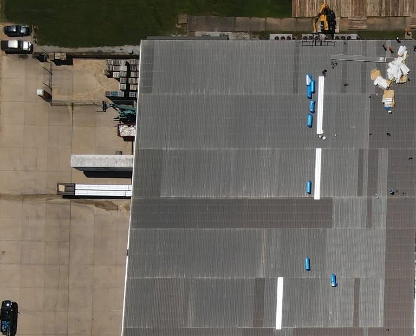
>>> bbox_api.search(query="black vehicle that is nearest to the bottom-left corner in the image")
[0,301,18,336]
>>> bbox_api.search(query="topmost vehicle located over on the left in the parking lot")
[4,24,31,37]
